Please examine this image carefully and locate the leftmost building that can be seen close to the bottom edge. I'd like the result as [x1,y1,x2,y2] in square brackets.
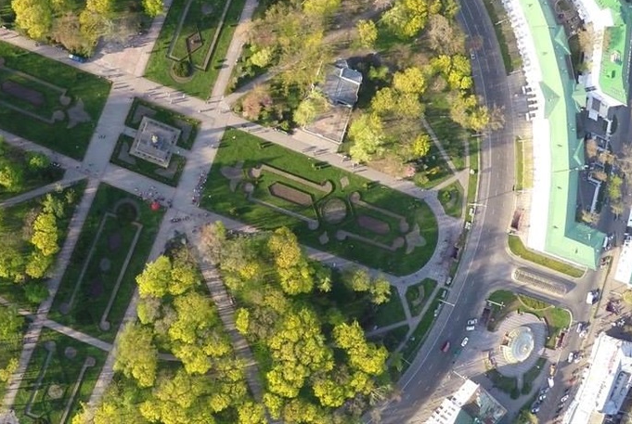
[428,375,507,424]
